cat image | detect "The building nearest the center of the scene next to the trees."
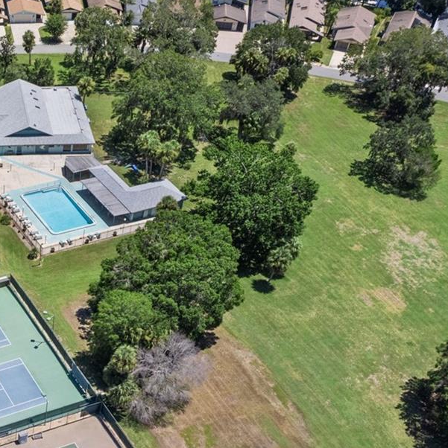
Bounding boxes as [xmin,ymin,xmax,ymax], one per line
[80,165,186,226]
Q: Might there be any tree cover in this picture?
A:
Yes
